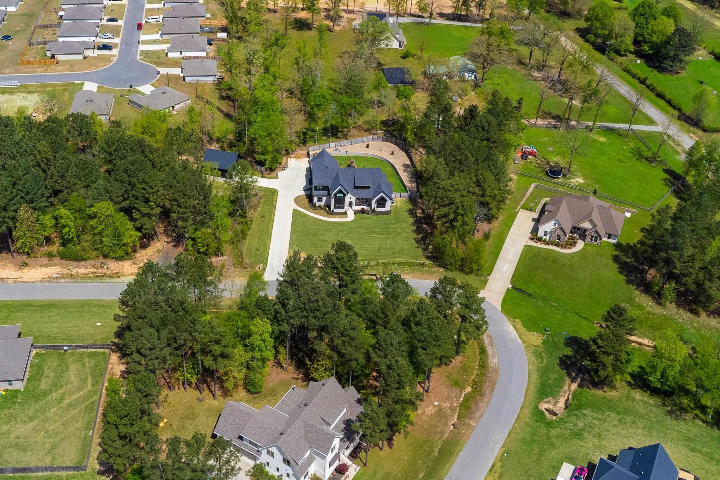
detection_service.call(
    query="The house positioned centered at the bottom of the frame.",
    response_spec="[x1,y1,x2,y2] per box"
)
[211,374,374,480]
